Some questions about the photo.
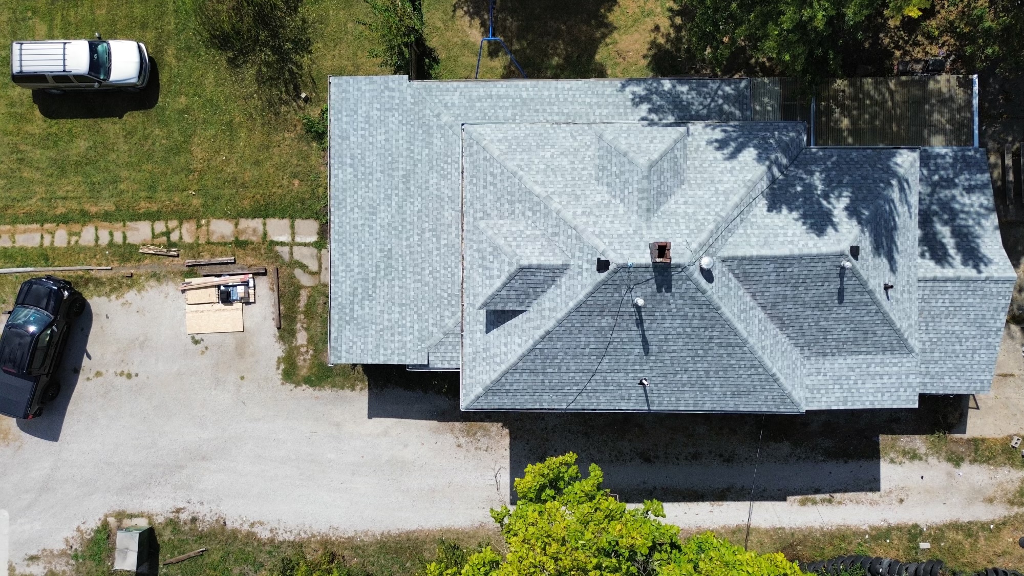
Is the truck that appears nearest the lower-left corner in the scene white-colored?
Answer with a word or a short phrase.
No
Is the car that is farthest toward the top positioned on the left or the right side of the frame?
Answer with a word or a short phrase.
left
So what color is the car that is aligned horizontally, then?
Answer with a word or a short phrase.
white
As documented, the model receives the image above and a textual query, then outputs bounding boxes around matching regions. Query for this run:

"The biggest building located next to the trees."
[325,74,1018,415]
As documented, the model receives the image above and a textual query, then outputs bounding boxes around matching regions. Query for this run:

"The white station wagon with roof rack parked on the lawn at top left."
[9,30,152,92]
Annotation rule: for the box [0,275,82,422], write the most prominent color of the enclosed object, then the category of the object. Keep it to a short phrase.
black truck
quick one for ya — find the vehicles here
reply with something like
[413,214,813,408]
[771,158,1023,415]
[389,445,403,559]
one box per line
[0,275,82,422]
[9,30,152,92]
